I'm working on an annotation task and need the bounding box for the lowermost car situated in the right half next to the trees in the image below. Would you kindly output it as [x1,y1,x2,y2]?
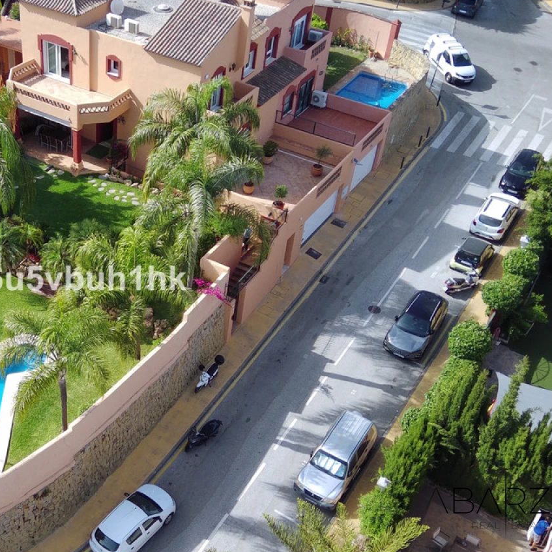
[297,393,382,500]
